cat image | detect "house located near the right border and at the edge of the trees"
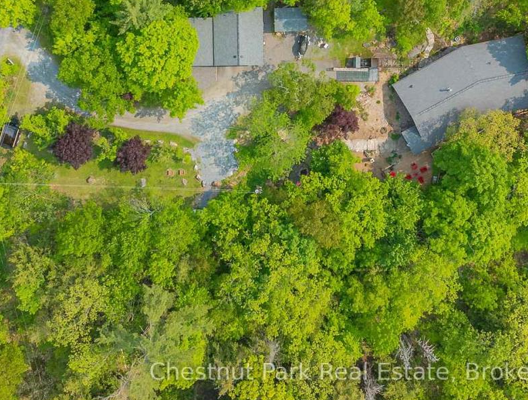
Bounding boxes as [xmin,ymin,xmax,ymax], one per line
[393,34,528,154]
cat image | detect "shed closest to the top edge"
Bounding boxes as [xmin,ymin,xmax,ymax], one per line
[275,7,307,32]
